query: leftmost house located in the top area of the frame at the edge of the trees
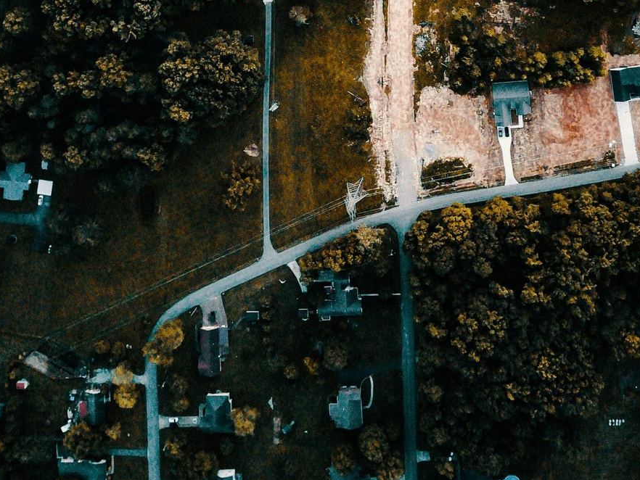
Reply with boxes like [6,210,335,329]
[0,161,33,202]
